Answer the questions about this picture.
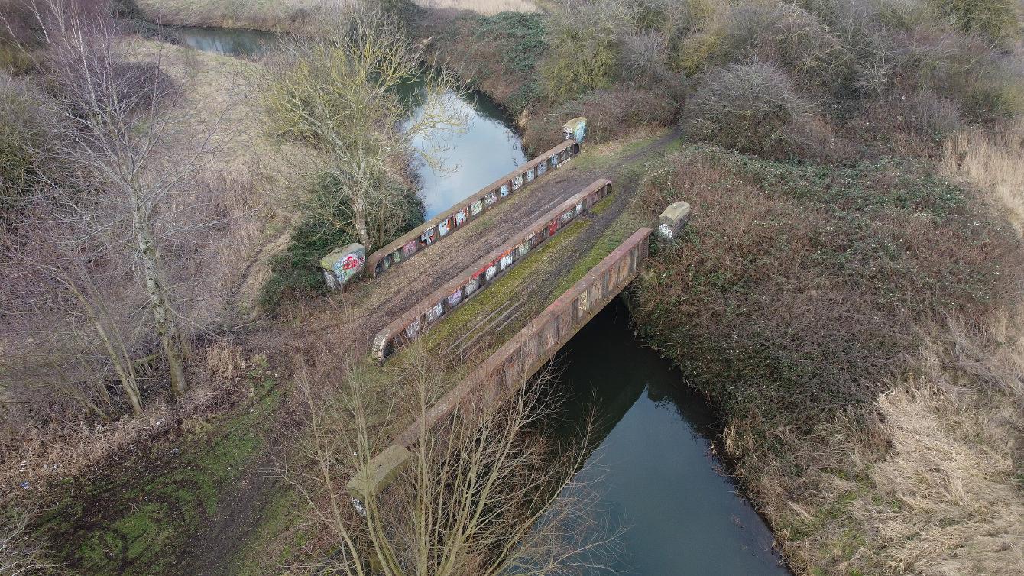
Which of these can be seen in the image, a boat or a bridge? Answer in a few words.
bridge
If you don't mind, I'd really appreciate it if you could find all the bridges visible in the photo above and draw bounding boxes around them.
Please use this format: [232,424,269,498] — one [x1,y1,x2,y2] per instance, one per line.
[358,142,653,485]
